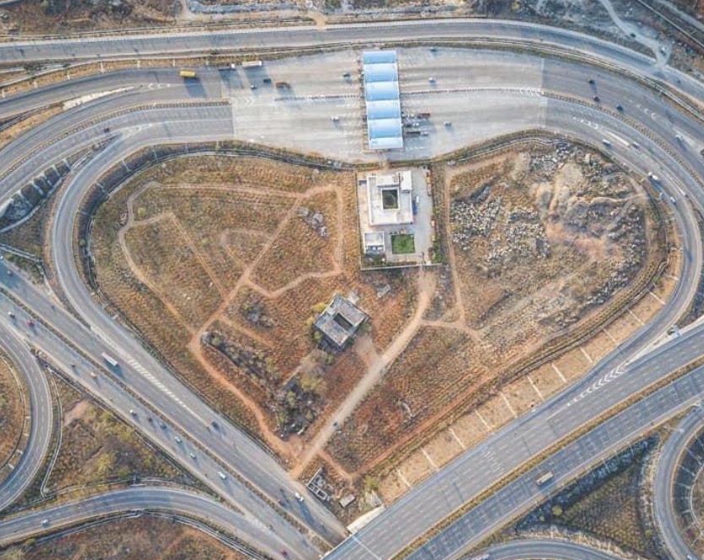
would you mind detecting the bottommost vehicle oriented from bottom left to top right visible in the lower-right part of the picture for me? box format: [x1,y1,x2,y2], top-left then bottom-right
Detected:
[536,471,555,485]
